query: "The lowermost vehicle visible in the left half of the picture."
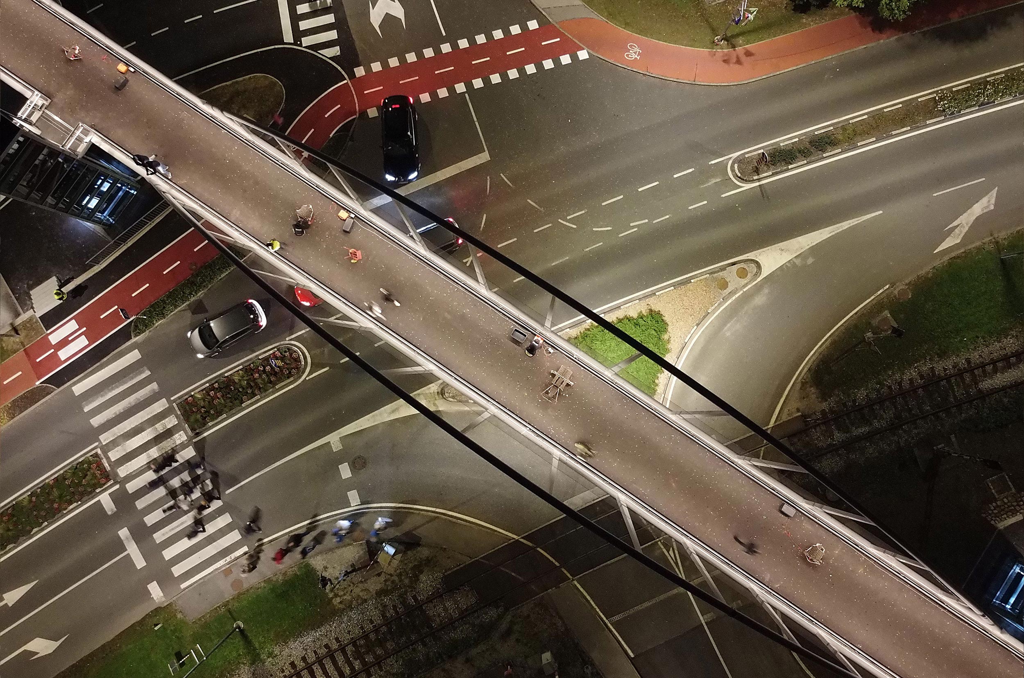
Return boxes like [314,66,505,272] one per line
[185,295,269,359]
